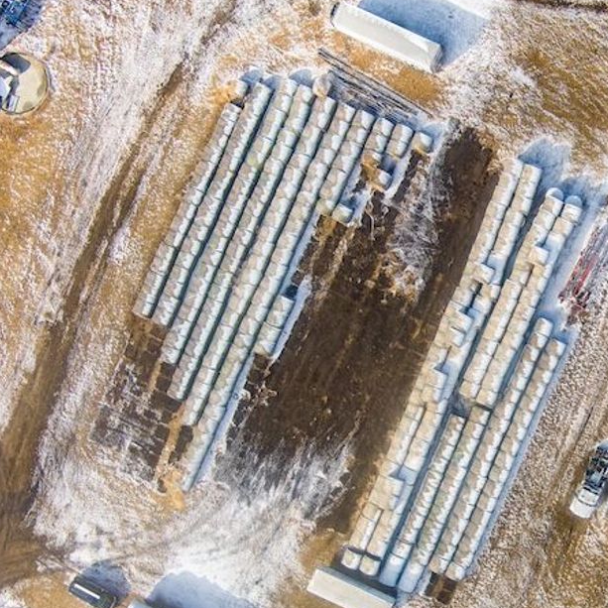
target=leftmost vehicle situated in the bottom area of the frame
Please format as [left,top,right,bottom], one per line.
[68,573,121,608]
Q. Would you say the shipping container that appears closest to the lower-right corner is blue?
No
